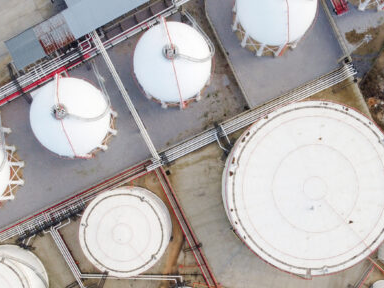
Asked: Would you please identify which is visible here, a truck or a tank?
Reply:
tank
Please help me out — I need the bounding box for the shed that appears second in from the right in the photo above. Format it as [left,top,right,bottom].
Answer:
[33,10,77,59]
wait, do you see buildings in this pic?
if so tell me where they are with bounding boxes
[59,0,153,45]
[33,10,77,59]
[5,28,48,73]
